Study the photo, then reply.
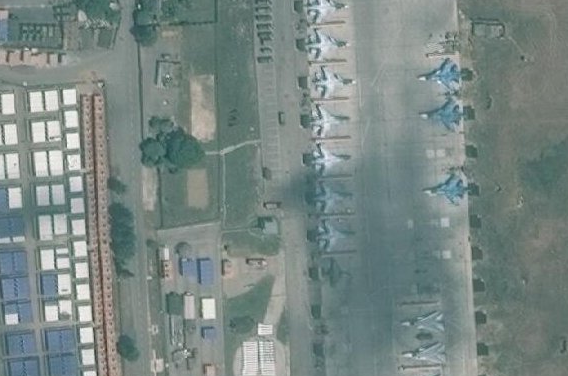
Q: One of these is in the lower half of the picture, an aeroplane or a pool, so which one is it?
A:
aeroplane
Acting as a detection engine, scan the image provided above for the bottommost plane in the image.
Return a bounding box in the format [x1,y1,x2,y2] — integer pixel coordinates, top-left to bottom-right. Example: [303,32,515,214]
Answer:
[403,344,445,364]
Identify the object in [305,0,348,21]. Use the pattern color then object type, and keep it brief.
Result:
white airplane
